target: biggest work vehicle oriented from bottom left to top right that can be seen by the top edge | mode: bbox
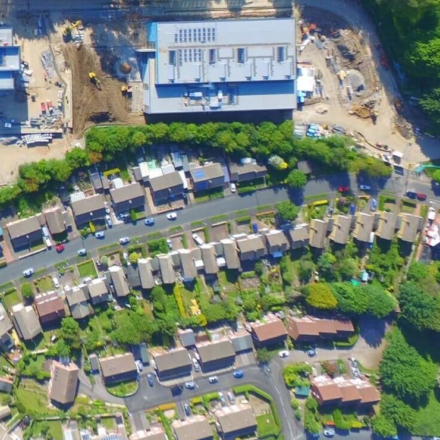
[62,17,83,37]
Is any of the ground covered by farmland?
No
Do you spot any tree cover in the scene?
Yes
